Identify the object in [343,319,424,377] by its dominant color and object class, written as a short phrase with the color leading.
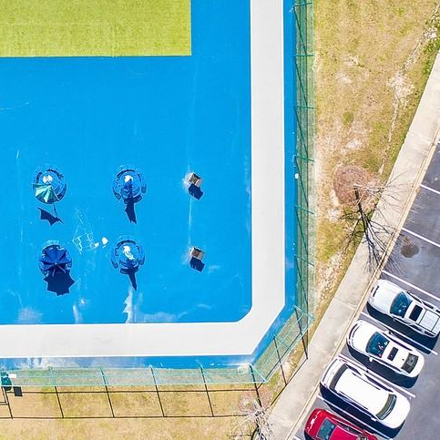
white car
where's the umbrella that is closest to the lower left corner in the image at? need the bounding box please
[39,246,72,278]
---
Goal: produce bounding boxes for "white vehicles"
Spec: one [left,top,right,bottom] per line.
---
[343,319,424,377]
[318,356,407,424]
[364,278,440,339]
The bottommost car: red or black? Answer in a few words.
red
